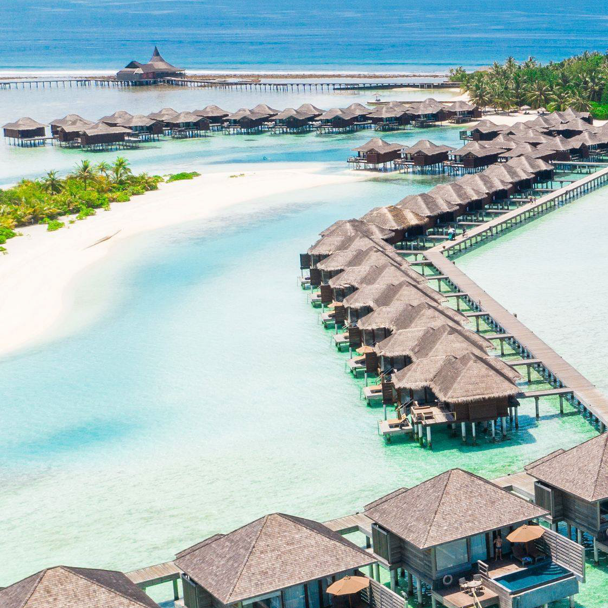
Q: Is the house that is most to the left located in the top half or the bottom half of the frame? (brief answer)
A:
top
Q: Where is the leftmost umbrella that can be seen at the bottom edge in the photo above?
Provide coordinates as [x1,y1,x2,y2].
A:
[321,575,369,608]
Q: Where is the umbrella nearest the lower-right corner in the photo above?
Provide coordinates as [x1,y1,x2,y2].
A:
[501,523,545,567]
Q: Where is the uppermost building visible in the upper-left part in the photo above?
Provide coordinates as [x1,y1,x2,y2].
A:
[107,44,184,94]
